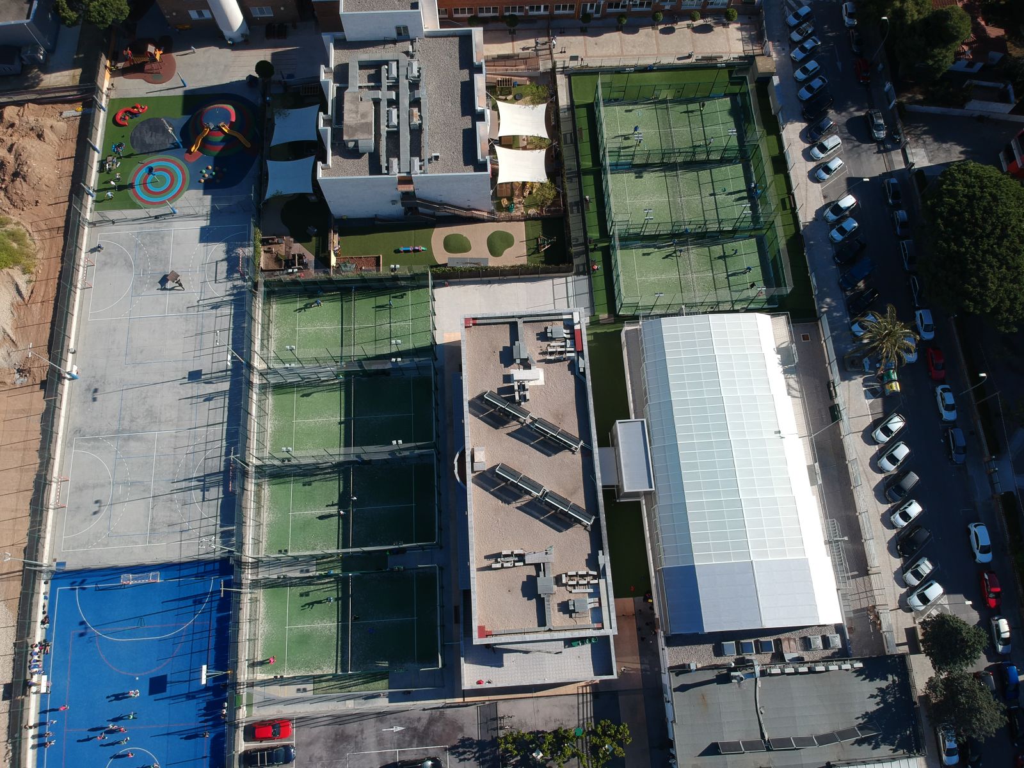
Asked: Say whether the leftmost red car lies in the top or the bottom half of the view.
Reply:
bottom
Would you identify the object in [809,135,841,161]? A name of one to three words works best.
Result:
car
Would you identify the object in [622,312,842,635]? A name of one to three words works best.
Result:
building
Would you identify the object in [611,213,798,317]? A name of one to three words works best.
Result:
sports court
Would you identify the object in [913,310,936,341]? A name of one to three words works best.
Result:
car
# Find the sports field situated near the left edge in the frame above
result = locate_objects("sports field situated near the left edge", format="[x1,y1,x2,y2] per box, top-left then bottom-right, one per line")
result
[30,556,242,768]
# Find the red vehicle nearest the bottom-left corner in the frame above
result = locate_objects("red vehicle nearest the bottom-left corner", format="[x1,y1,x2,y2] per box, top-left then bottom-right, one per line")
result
[249,718,295,741]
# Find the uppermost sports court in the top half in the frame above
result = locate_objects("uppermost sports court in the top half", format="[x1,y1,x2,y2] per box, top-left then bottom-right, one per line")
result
[593,66,764,165]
